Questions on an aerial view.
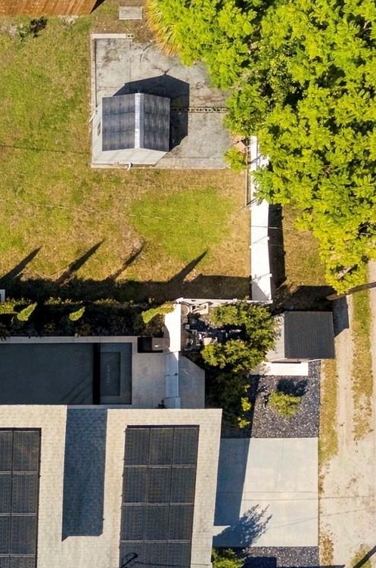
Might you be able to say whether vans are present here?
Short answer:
No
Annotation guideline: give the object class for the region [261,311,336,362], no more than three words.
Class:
shed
